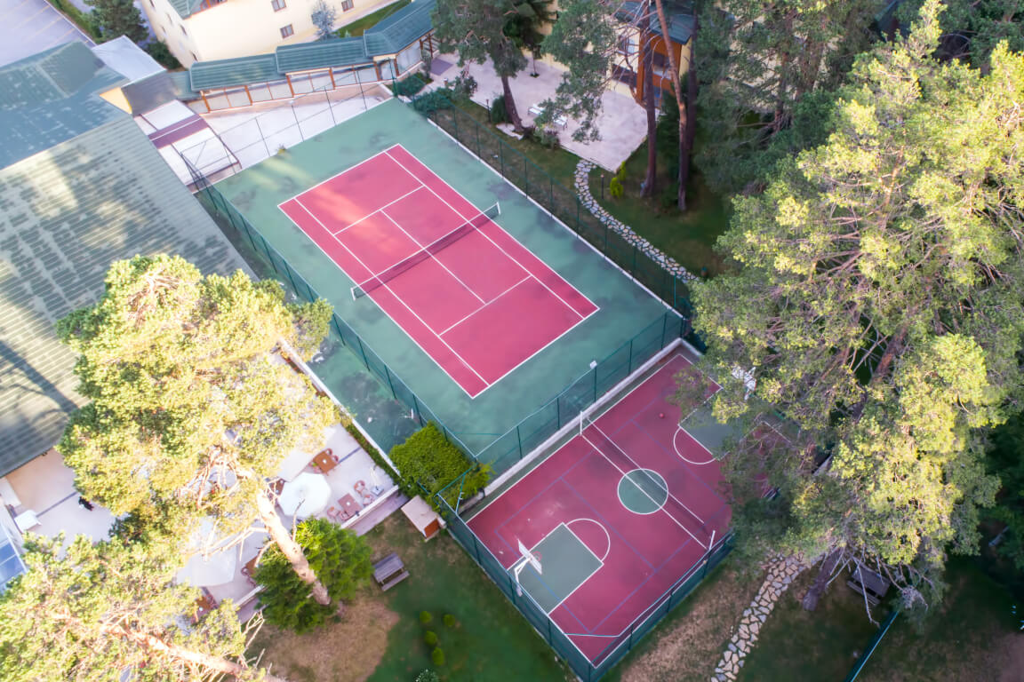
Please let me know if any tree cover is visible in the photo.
Yes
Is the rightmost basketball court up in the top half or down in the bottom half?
bottom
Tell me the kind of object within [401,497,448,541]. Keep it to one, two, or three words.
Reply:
shed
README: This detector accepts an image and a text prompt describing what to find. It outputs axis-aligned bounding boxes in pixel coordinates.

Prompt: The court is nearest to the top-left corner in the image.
[197,99,694,500]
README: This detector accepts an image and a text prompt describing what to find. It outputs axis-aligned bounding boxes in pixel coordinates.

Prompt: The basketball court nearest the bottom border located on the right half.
[448,340,819,682]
